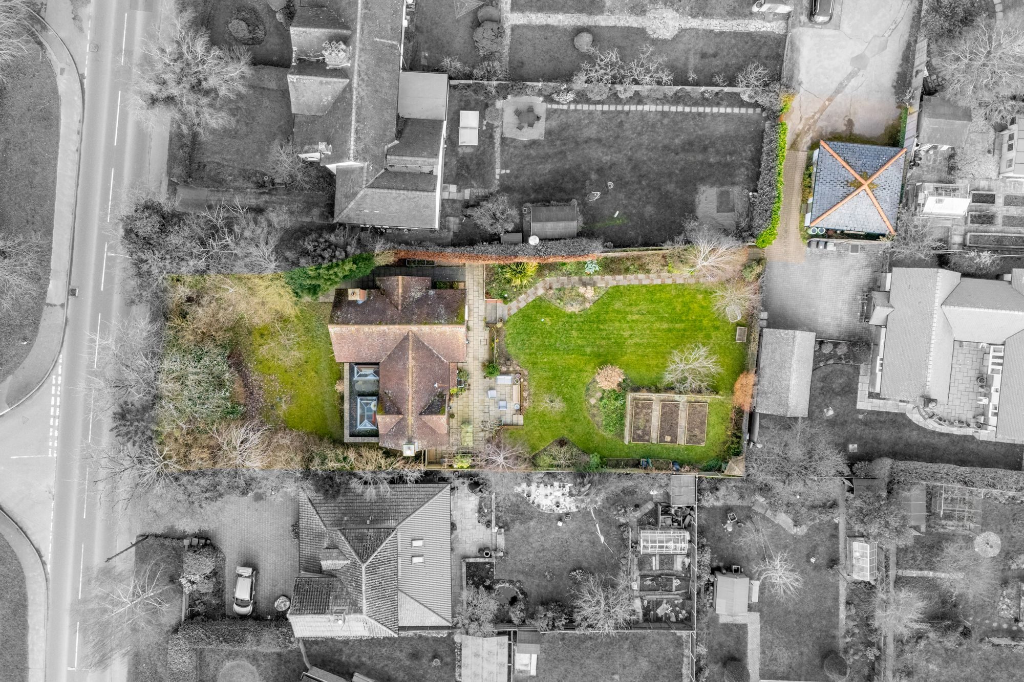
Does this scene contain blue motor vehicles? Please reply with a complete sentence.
No, there isn't any blue motor vehicle down there.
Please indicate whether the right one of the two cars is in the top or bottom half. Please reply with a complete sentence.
The right one of the two cars sits in the top half of the picture.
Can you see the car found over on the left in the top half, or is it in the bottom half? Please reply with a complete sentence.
Seen from above, the car found over on the left lies in the bottom half of the view.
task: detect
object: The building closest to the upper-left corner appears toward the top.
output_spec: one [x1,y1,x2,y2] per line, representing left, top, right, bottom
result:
[287,0,450,233]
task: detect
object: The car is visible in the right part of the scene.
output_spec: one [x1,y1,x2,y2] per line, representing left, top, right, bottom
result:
[807,0,838,26]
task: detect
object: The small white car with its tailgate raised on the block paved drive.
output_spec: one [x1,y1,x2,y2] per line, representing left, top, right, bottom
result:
[229,566,259,617]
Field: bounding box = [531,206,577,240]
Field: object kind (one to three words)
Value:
shed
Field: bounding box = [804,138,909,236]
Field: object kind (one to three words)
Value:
building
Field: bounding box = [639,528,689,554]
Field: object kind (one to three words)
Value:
greenhouse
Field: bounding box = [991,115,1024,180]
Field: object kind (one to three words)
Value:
house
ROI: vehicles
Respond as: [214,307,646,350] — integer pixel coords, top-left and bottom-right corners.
[229,566,259,617]
[807,0,838,26]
